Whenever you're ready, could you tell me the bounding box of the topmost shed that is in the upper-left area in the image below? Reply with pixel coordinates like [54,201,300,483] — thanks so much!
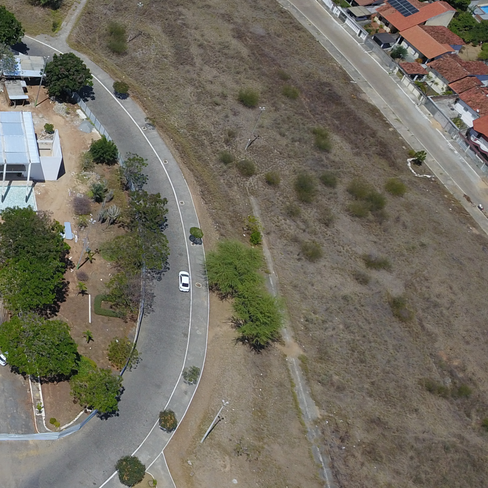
[1,55,46,85]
